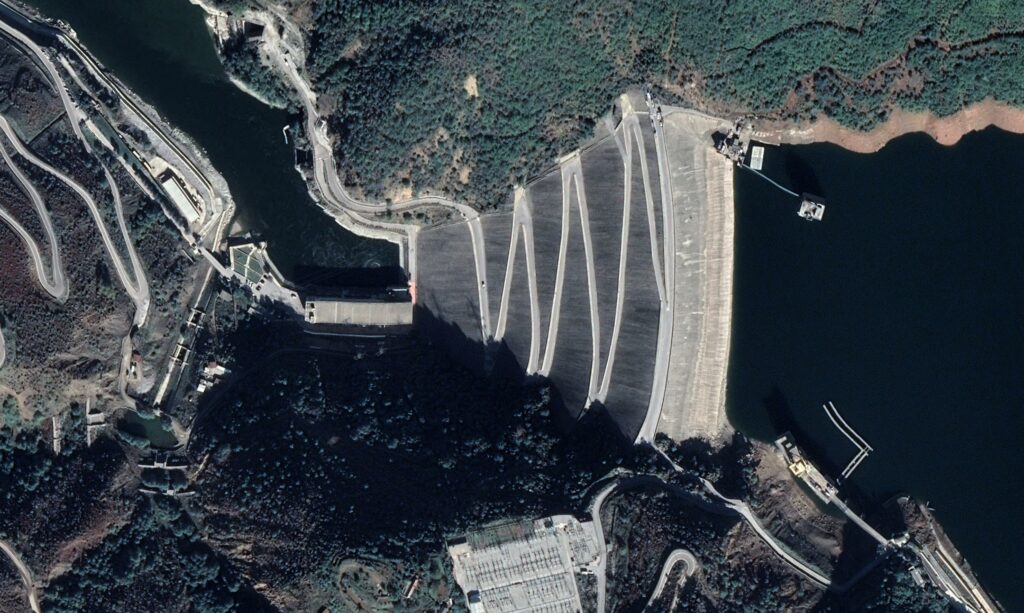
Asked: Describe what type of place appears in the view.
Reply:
port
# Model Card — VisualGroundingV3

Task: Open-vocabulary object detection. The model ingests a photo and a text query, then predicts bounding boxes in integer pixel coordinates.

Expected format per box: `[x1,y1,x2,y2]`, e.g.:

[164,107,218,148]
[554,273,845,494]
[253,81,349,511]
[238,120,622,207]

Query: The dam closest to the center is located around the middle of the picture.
[413,107,741,447]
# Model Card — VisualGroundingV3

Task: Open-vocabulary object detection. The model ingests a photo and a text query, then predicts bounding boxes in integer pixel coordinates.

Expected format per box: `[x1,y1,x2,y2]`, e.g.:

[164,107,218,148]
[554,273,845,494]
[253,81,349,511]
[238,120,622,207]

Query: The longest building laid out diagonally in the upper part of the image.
[163,176,201,222]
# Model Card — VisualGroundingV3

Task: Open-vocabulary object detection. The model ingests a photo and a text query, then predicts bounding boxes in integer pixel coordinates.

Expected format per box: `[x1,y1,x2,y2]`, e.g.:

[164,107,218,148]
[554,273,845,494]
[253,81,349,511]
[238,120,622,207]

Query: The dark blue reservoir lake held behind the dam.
[728,125,1024,613]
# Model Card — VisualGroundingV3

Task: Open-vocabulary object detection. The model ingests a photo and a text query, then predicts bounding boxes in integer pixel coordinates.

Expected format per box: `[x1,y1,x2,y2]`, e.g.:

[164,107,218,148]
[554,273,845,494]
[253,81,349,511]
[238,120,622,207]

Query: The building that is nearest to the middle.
[303,296,413,337]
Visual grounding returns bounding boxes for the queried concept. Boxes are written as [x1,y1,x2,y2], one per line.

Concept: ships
[750,146,764,170]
